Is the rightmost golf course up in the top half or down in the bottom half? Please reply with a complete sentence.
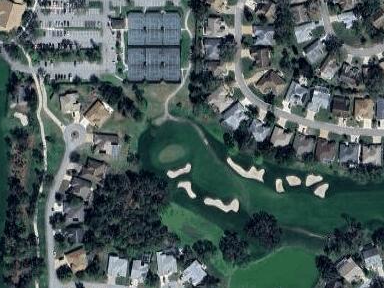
It is in the bottom half that the rightmost golf course appears.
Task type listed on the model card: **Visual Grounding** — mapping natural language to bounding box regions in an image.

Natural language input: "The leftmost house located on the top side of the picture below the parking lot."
[59,91,80,112]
